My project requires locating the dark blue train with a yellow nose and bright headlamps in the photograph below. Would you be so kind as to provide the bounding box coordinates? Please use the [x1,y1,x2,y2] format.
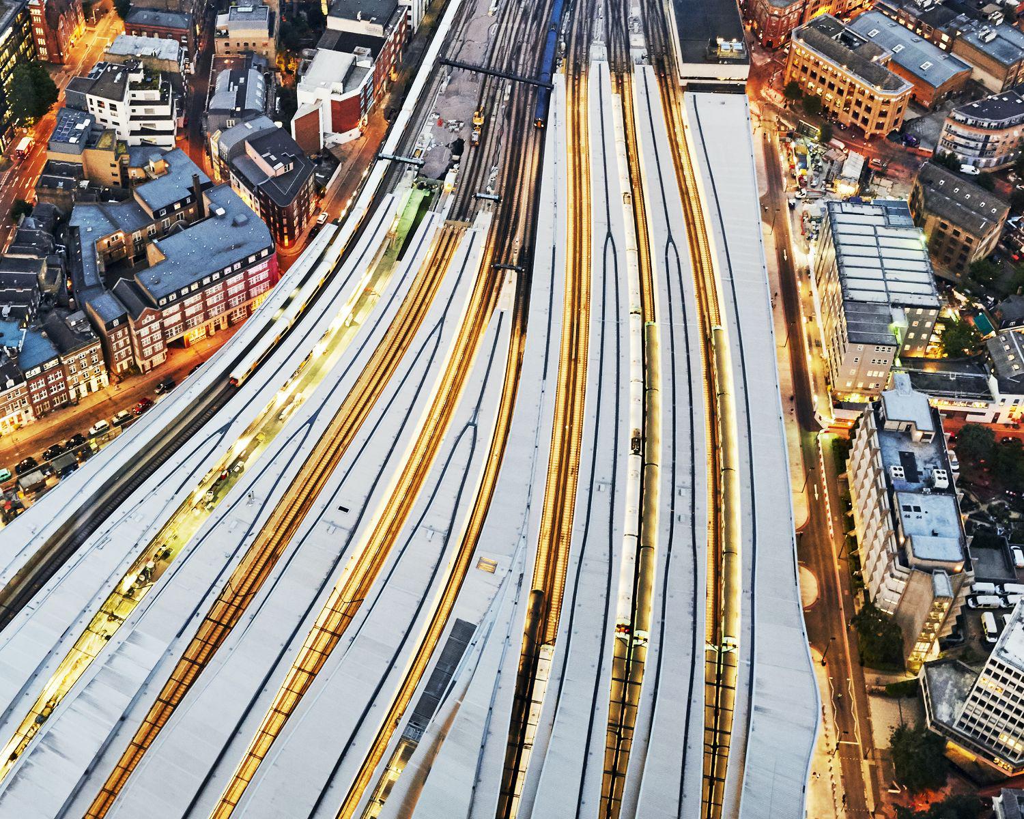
[534,0,567,136]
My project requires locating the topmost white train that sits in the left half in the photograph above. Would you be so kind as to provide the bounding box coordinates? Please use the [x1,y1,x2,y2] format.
[235,0,468,392]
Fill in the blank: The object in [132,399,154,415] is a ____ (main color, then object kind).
red car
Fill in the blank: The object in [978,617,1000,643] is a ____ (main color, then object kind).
white vehicle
